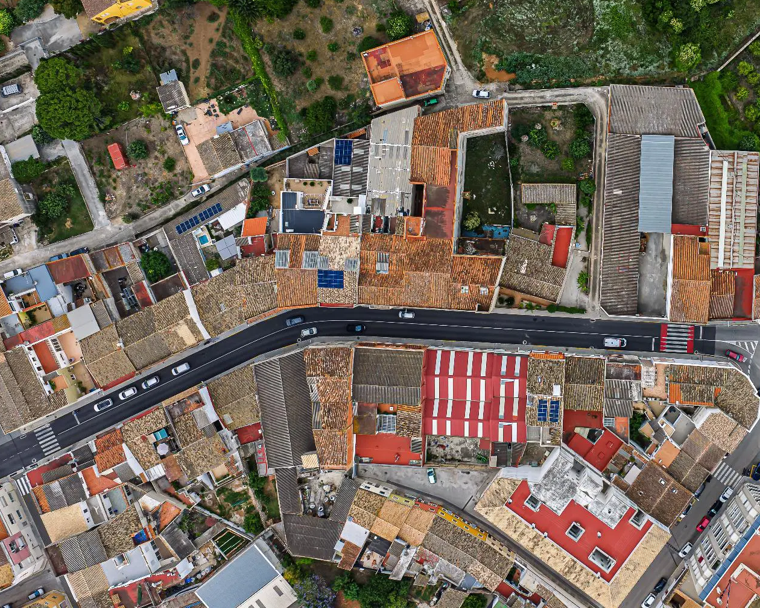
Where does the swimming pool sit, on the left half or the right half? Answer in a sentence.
You can find the swimming pool on the left side of the picture.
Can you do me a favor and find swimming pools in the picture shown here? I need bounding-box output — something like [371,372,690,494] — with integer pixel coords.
[192,225,215,245]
